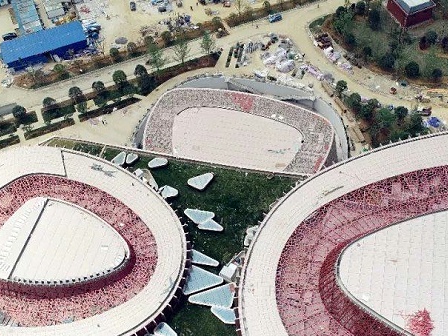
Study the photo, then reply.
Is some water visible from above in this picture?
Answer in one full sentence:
No, the picture contains no water.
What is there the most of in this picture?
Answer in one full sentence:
The scene is dominated by buildings.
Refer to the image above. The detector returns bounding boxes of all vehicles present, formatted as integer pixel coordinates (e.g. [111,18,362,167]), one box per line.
[2,32,18,41]
[267,13,284,22]
[196,0,210,5]
[131,2,137,11]
[156,5,170,13]
[220,1,233,8]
